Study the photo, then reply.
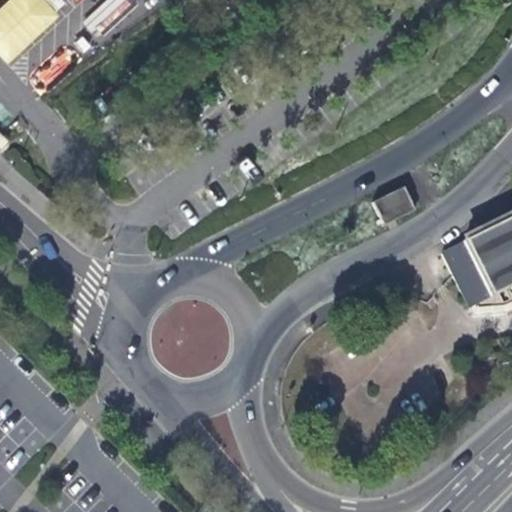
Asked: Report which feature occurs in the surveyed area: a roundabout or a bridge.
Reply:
roundabout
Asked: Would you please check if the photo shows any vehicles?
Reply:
Yes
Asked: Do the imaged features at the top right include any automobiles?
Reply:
Yes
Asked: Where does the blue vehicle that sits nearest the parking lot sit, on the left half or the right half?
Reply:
left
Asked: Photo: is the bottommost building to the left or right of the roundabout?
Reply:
on its right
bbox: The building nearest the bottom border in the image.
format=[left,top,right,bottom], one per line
[442,208,512,307]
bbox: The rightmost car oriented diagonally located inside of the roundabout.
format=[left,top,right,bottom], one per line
[156,267,176,288]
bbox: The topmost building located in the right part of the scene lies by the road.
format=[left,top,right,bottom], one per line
[372,186,416,228]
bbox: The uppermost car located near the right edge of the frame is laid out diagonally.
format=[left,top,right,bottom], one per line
[478,79,500,98]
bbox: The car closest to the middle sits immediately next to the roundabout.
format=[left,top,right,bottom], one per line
[206,238,228,256]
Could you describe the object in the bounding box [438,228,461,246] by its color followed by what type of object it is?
white car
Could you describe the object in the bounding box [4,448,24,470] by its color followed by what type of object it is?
white car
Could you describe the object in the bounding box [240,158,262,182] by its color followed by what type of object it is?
white vehicle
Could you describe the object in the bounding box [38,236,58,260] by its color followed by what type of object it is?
blue vehicle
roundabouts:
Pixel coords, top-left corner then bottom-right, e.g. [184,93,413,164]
[96,251,264,500]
